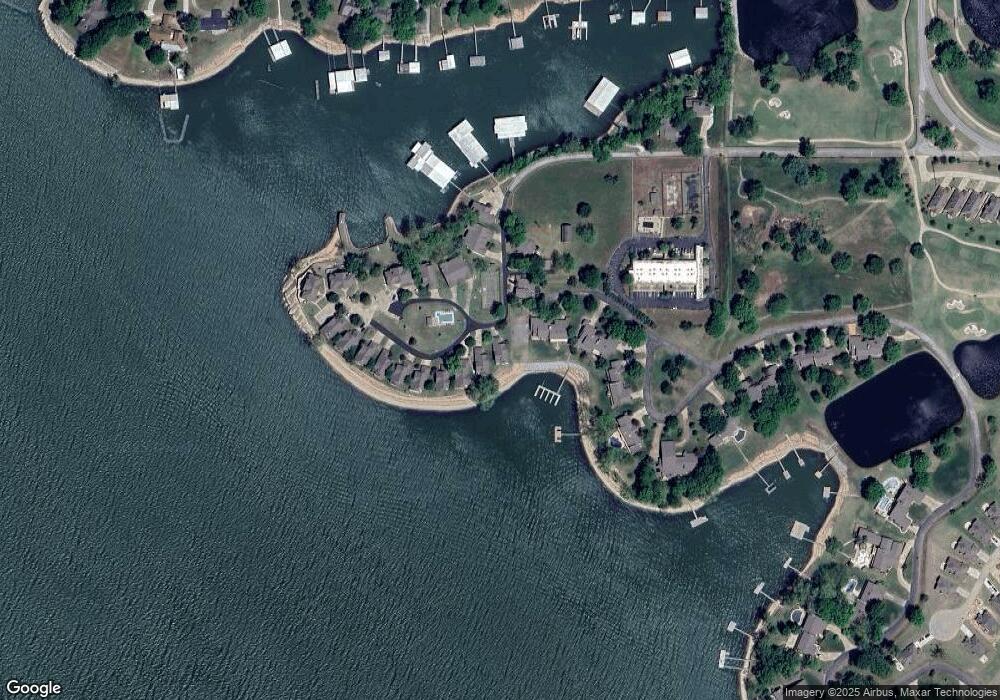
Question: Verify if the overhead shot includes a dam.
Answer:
No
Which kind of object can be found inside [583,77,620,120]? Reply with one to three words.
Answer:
pier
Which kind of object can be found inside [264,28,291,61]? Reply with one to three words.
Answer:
pier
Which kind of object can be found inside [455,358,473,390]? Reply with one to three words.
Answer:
house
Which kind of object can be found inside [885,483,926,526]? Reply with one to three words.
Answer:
house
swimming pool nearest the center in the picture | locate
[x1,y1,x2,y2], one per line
[430,310,455,326]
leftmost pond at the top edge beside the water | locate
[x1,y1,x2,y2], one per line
[736,0,858,77]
